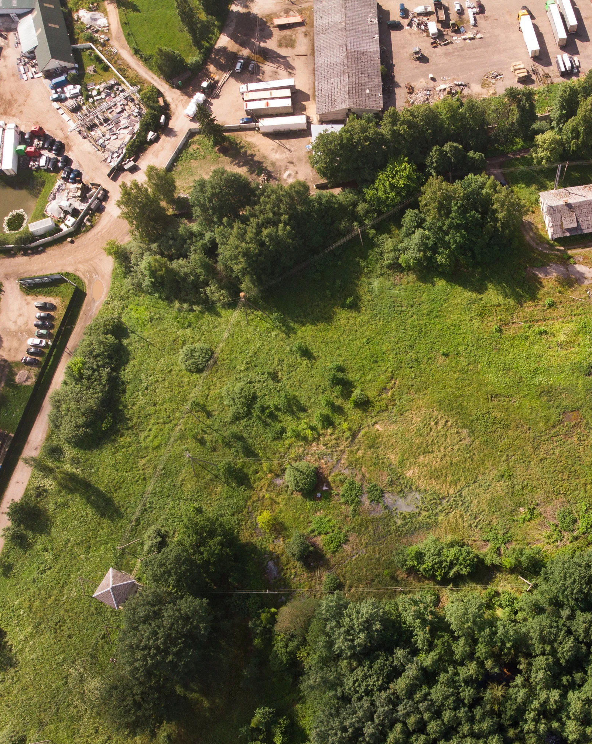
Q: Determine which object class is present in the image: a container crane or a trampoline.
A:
container crane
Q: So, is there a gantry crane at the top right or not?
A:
No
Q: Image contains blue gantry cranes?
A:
No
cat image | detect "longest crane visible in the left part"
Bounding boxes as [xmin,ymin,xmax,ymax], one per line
[69,84,145,144]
